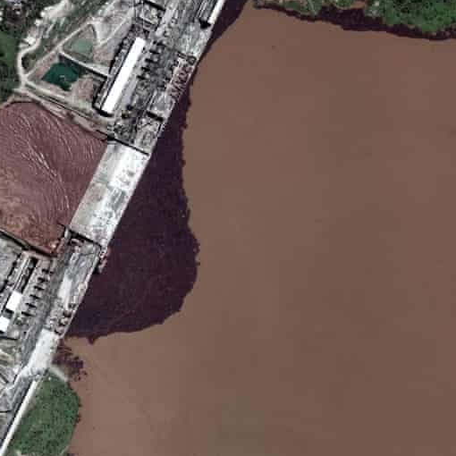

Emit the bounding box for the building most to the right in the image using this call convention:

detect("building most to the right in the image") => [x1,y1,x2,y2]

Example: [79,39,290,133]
[93,30,150,118]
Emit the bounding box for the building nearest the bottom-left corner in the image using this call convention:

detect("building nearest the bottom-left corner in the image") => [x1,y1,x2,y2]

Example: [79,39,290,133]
[0,247,45,336]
